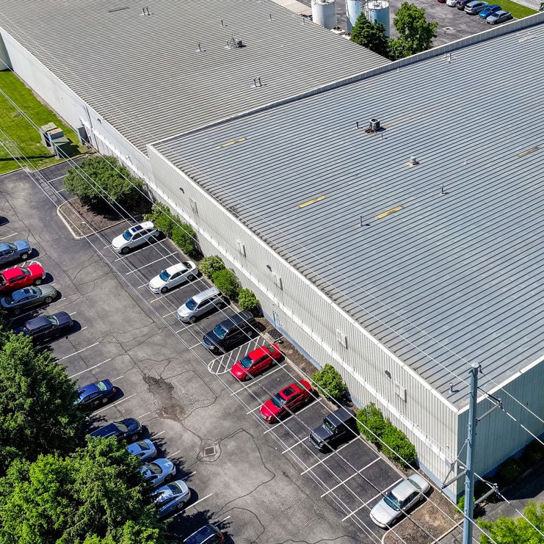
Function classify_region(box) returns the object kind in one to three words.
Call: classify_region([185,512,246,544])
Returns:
car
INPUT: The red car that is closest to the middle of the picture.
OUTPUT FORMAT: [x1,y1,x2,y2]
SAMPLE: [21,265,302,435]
[228,347,285,384]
